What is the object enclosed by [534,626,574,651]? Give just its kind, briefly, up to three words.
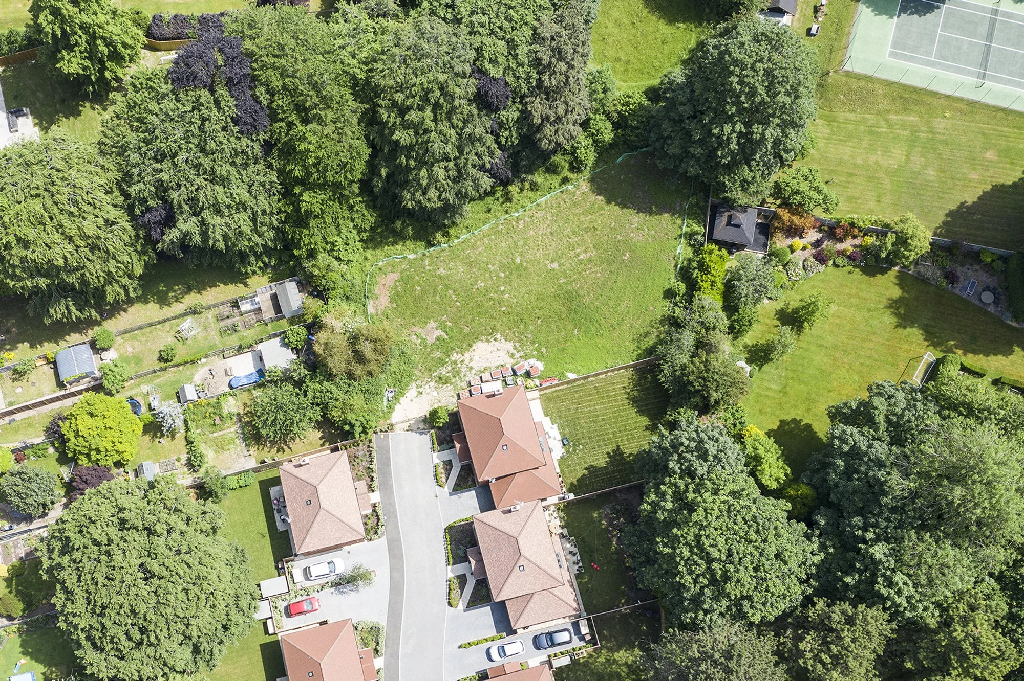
car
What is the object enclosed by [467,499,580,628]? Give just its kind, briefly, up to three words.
house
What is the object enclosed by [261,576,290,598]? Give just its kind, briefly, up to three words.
shed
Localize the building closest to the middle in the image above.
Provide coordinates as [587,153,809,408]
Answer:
[452,385,562,509]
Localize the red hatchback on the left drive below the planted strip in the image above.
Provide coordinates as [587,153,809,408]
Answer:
[287,596,321,618]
